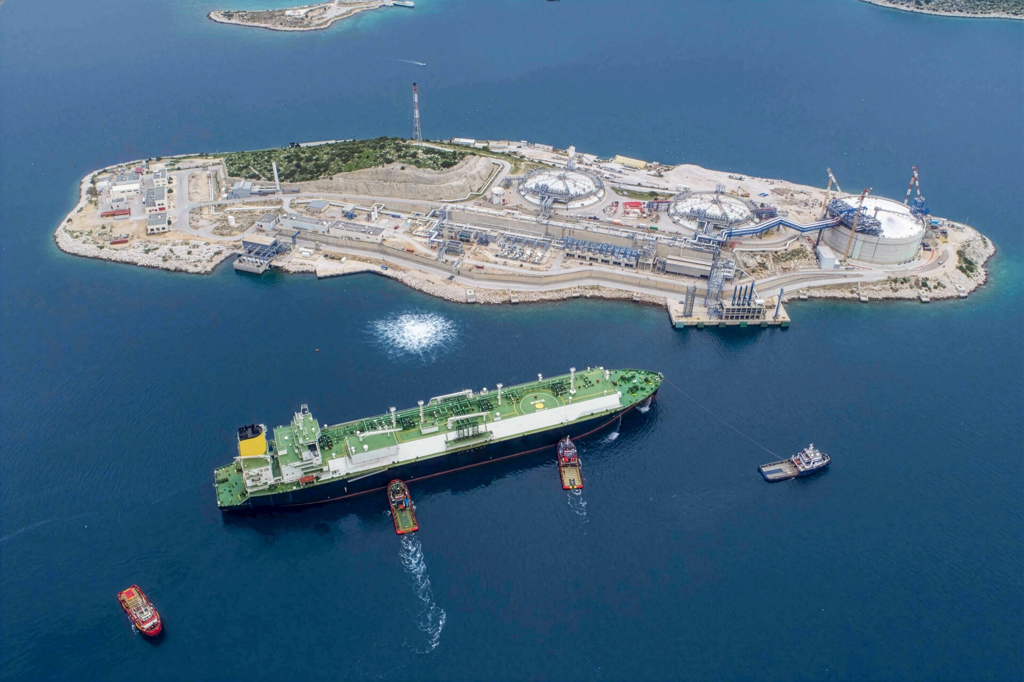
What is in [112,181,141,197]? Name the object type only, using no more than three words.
building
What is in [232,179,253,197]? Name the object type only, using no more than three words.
shed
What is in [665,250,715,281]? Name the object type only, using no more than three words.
building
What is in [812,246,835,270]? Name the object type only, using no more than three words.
shed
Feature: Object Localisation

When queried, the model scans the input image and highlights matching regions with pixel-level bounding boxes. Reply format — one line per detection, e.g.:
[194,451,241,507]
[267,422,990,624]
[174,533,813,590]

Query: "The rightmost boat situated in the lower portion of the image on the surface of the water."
[756,443,831,482]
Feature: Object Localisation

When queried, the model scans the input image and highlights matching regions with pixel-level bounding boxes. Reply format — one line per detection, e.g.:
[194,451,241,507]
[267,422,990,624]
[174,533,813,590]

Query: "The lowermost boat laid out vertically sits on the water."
[387,479,421,538]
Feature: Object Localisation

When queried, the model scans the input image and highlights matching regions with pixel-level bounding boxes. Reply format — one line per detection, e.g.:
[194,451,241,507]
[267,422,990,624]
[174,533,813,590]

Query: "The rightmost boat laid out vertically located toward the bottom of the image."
[558,437,585,492]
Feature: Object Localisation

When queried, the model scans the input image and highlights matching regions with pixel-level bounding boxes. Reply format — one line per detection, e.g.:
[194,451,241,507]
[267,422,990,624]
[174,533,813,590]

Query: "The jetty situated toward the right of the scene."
[666,294,791,326]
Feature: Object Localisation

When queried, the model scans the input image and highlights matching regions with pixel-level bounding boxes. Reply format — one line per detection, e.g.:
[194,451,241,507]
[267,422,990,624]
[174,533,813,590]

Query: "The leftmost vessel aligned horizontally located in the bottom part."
[211,362,664,511]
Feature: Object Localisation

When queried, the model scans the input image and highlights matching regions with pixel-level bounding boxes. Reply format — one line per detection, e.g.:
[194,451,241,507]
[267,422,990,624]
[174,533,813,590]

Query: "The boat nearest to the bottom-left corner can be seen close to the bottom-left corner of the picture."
[114,583,162,641]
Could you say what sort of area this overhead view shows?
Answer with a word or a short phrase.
port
